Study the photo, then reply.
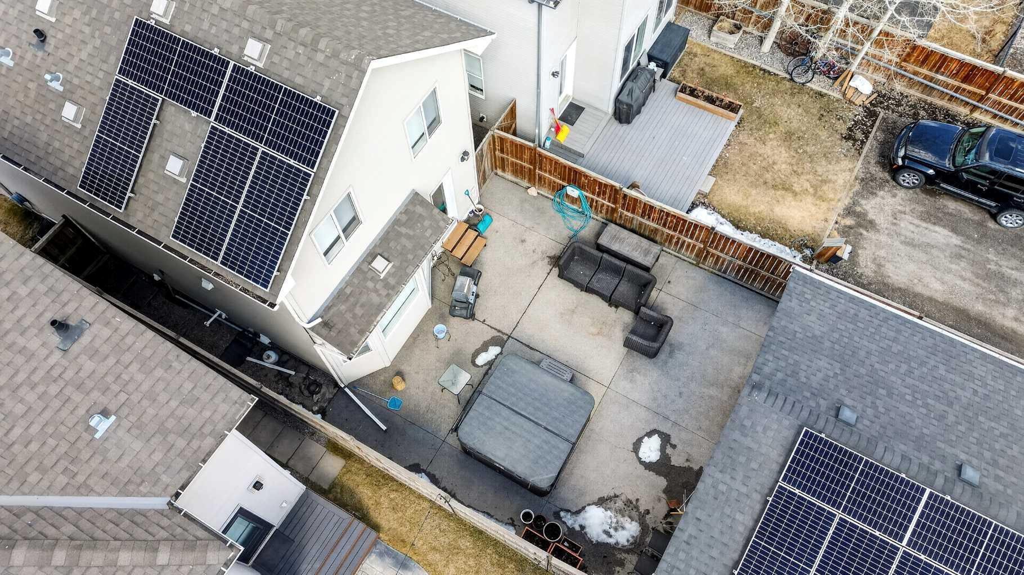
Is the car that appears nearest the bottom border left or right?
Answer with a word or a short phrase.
right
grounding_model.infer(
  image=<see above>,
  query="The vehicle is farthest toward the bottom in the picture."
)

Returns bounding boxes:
[884,112,1024,228]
